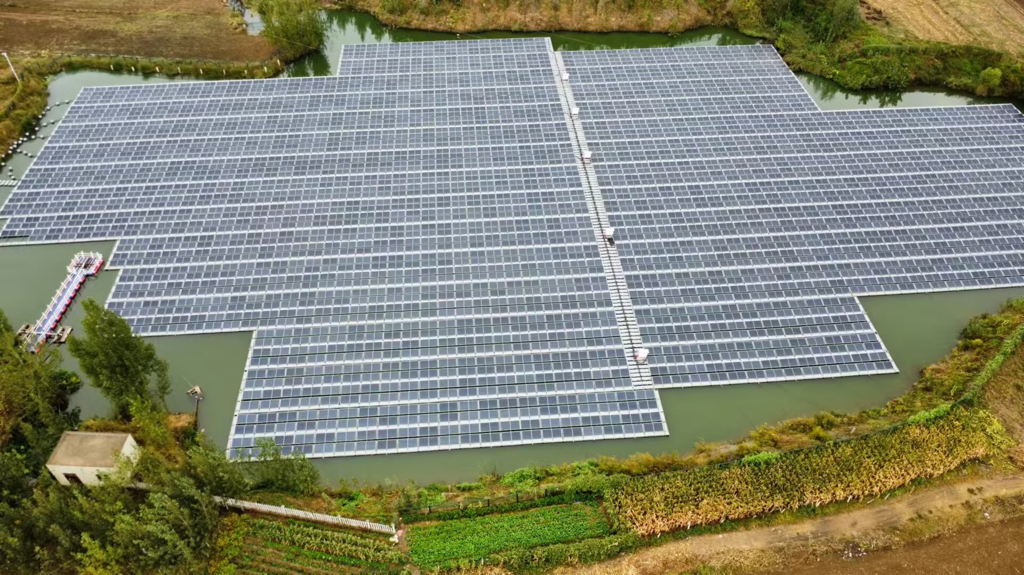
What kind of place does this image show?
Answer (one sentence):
The area seen from above is a solar farm.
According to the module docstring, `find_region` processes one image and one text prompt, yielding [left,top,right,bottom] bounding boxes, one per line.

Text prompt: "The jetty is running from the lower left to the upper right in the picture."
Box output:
[23,249,105,352]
